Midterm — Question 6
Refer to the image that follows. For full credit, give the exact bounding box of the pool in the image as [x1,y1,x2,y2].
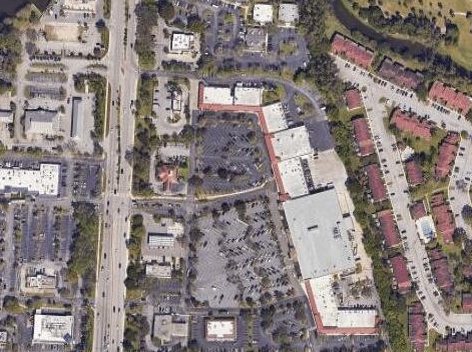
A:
[417,217,436,240]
